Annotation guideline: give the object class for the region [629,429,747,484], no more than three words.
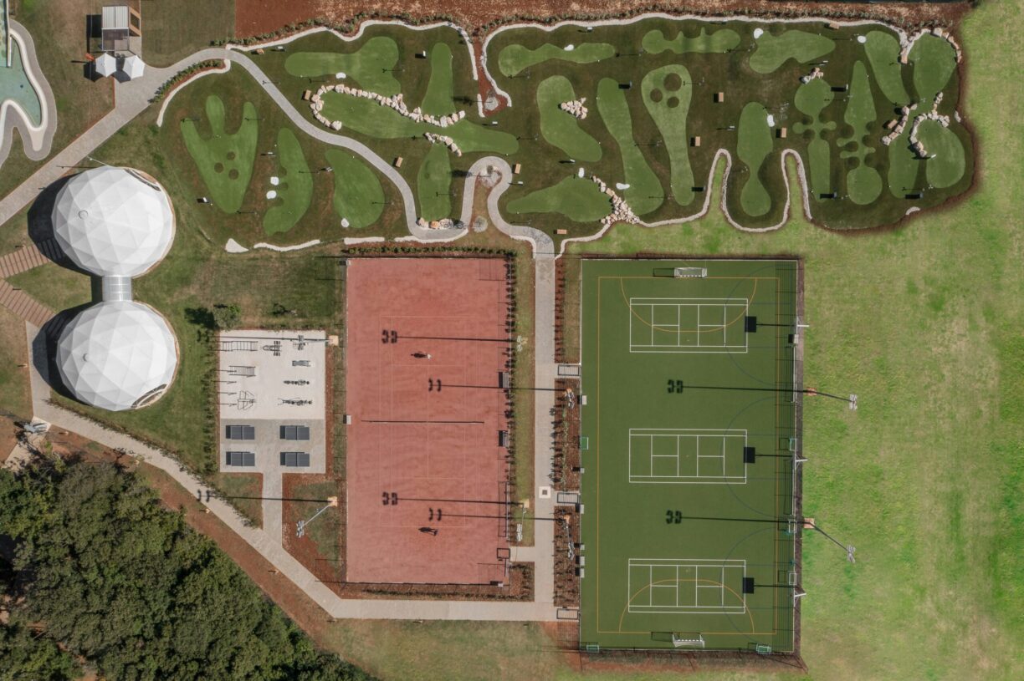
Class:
tennis court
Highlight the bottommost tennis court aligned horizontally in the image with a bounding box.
[628,559,746,614]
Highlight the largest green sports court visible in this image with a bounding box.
[580,259,797,652]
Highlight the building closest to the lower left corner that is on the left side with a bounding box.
[53,297,178,415]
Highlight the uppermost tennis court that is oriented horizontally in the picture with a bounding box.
[630,298,748,353]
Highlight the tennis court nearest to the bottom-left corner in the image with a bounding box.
[346,258,507,585]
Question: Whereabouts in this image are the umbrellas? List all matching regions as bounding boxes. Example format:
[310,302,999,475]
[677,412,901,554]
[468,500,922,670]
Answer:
[96,53,119,78]
[123,54,147,80]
